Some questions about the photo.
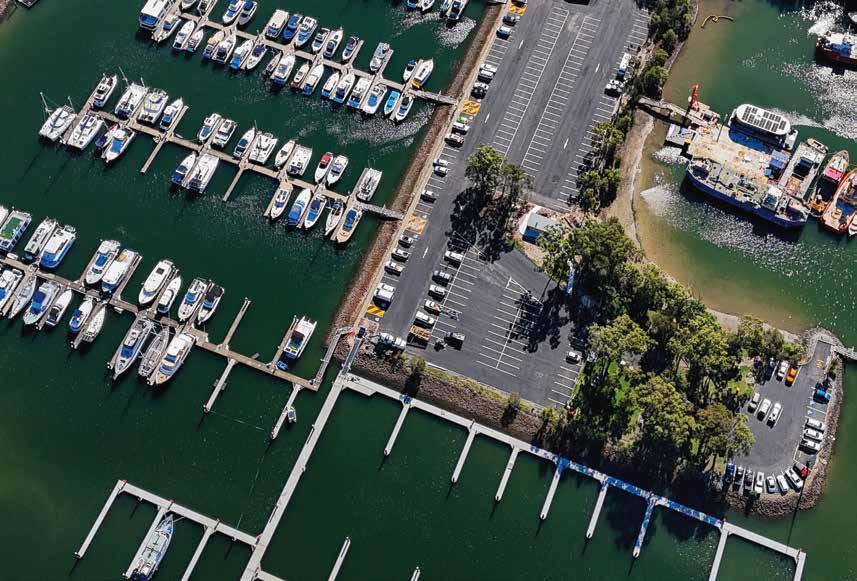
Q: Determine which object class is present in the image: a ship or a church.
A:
ship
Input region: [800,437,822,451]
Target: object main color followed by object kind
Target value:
white car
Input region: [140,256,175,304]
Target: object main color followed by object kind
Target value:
white boat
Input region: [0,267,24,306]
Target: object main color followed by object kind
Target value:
white boat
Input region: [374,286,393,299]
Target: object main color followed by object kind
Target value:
white vehicle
